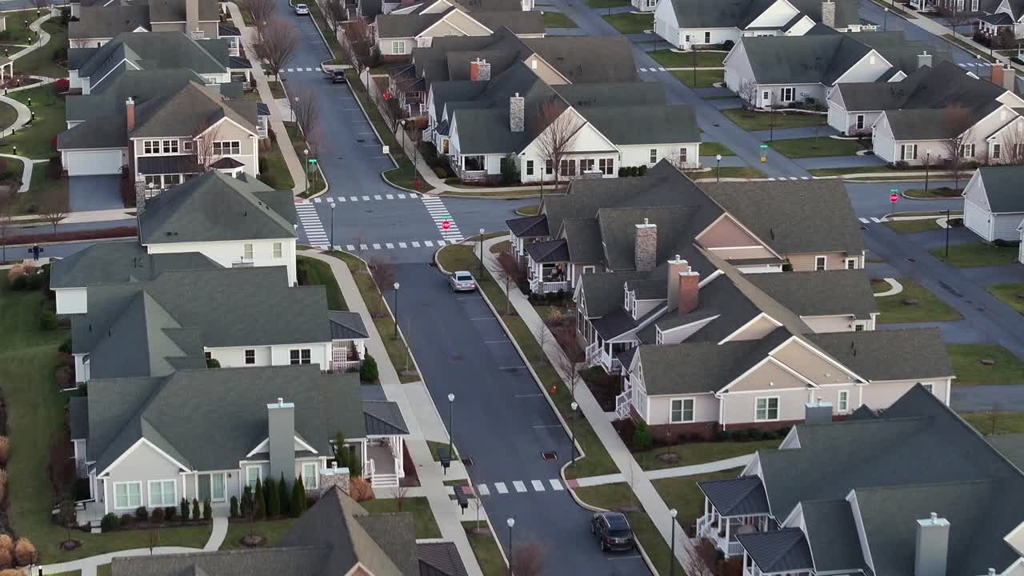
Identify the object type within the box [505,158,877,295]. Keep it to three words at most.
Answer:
house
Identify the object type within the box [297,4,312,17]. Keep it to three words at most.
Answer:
vehicle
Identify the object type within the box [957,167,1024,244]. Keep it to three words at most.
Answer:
house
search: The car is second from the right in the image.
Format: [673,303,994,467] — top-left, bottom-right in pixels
[451,271,480,294]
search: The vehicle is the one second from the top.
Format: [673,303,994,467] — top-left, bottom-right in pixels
[331,72,348,86]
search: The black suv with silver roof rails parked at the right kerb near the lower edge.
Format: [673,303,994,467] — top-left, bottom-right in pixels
[590,510,639,554]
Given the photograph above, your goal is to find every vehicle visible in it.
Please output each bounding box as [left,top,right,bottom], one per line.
[590,510,639,554]
[331,72,348,86]
[297,4,312,17]
[451,271,480,294]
